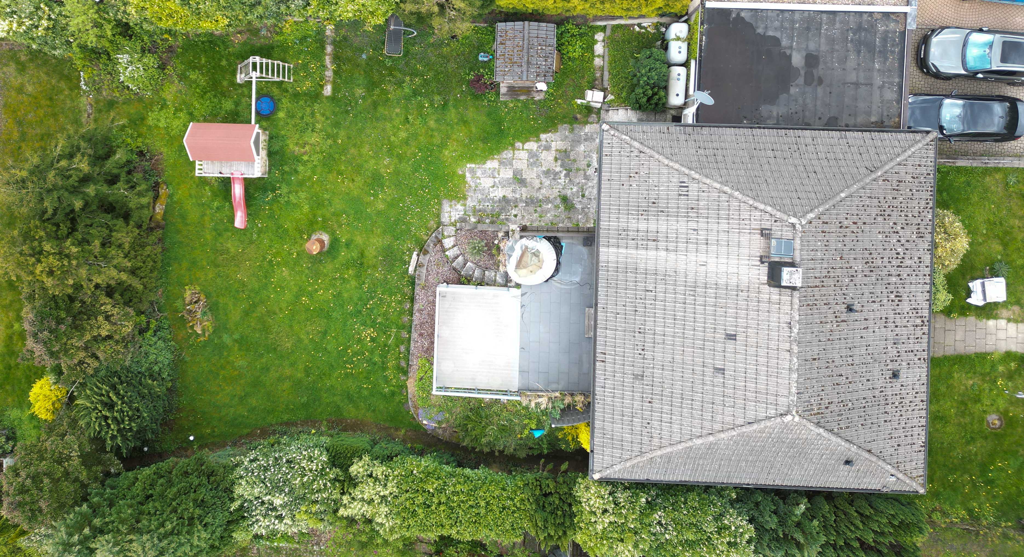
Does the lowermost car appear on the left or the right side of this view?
right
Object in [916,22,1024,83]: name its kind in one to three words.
car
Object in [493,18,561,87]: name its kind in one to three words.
shed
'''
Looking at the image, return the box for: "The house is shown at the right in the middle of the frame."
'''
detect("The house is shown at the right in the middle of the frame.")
[590,122,937,493]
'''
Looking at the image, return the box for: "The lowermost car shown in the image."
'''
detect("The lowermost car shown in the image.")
[909,91,1024,147]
